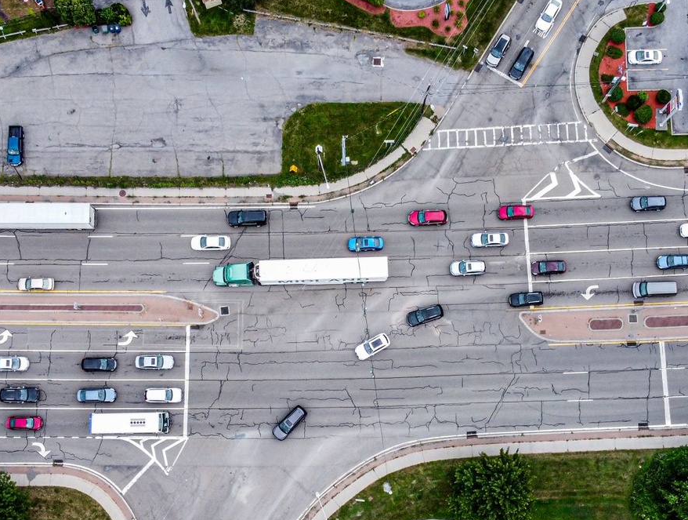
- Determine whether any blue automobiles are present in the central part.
Yes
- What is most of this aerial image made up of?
paved ground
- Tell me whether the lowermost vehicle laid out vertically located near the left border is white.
No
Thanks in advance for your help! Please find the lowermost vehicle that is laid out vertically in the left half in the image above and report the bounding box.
[4,124,25,168]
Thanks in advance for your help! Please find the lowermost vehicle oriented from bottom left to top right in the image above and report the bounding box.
[272,402,308,443]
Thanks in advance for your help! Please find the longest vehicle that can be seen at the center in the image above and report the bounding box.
[212,257,389,287]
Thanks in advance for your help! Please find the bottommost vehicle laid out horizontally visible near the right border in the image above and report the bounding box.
[630,280,680,298]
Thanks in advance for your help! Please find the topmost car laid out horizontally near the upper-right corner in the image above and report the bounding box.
[626,48,663,66]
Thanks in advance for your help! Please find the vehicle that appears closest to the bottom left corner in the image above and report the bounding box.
[5,415,45,433]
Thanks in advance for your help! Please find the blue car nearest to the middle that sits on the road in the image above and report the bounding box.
[347,235,384,252]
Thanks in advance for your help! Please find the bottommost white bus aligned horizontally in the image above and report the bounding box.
[87,411,175,434]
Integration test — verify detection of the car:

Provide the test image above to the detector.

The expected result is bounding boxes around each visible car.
[626,48,663,66]
[272,402,308,443]
[0,355,32,373]
[227,209,267,227]
[628,194,668,212]
[532,0,565,38]
[347,235,384,252]
[507,291,543,309]
[5,415,45,433]
[354,330,392,361]
[405,303,445,327]
[507,43,537,84]
[18,274,56,292]
[80,356,119,374]
[483,30,514,70]
[469,231,509,248]
[654,253,688,271]
[145,386,183,405]
[676,223,688,238]
[407,207,447,226]
[135,354,176,372]
[496,204,534,221]
[191,234,230,251]
[76,386,118,405]
[529,258,567,276]
[449,258,487,277]
[0,385,42,404]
